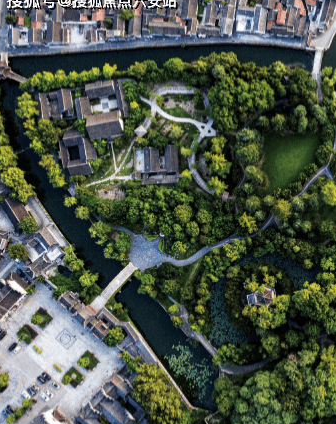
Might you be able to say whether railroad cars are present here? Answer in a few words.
No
